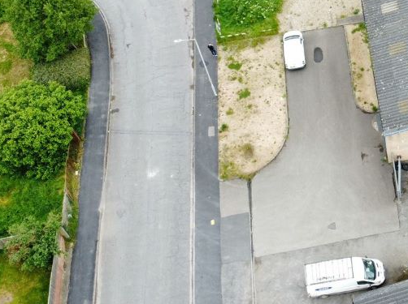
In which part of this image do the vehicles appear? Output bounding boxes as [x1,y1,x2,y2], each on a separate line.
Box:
[304,253,383,297]
[282,32,307,72]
